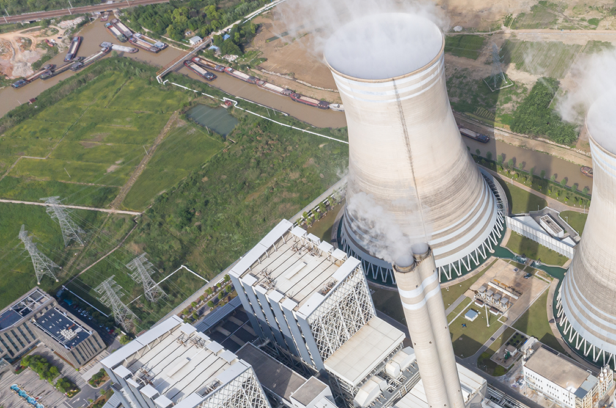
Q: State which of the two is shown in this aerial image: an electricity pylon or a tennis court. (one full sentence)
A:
I can see an electricity pylon in this picture.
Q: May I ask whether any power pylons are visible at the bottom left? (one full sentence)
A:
Yes, a power pylon can be seen at the bottom left.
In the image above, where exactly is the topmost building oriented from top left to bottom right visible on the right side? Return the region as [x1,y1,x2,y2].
[539,214,564,240]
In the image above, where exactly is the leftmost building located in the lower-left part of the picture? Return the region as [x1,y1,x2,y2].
[0,287,57,361]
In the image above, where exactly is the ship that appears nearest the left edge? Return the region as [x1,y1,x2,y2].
[8,63,52,87]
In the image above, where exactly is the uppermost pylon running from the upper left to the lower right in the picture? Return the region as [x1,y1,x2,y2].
[37,199,89,249]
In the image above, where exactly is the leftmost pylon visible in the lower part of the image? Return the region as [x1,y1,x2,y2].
[10,229,61,285]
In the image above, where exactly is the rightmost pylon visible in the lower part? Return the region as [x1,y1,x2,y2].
[131,254,172,305]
